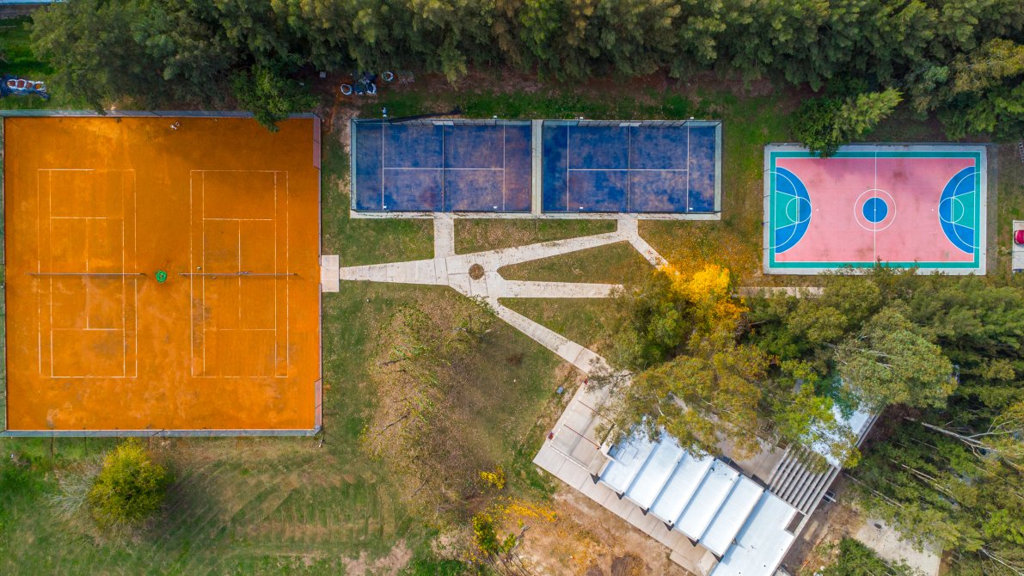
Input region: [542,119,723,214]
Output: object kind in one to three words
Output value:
sports court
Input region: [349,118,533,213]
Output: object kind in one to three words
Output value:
sports court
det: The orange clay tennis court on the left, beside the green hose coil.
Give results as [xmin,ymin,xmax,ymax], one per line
[4,116,163,430]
